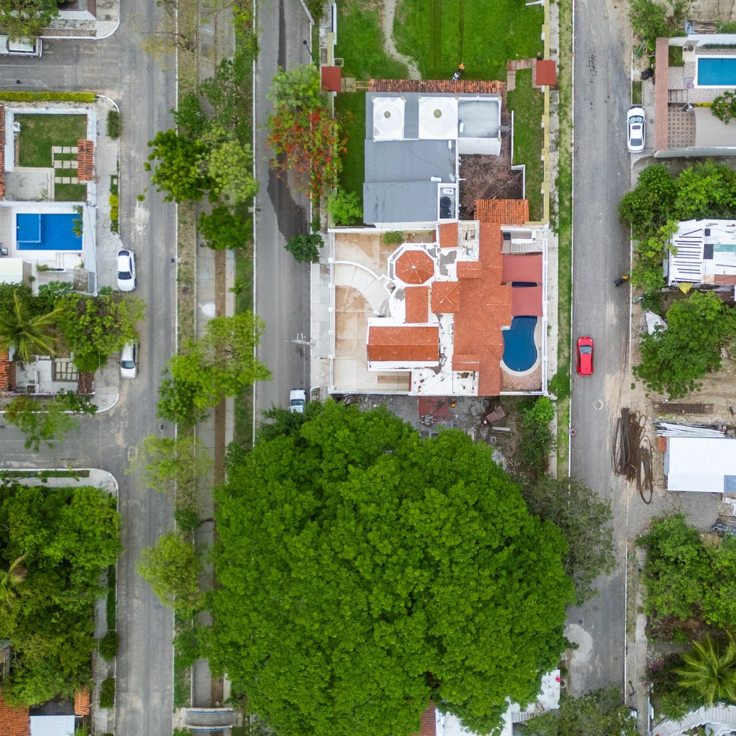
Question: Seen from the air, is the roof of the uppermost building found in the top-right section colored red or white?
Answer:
red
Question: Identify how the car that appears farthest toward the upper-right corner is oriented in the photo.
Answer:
vertically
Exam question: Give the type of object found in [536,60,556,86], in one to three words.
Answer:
building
